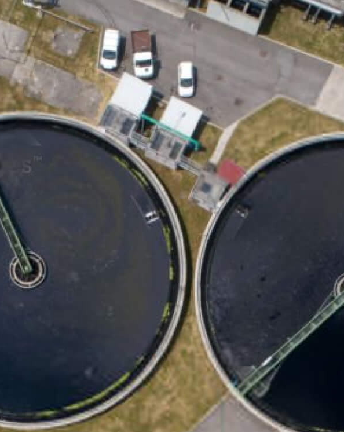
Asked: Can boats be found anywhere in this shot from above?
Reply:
No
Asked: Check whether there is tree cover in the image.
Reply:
No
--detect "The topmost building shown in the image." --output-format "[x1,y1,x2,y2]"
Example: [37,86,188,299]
[110,72,153,118]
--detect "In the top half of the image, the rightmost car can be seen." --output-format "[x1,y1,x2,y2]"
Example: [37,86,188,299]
[177,62,195,97]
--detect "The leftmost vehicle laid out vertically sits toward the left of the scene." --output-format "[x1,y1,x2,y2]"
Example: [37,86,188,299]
[100,31,119,71]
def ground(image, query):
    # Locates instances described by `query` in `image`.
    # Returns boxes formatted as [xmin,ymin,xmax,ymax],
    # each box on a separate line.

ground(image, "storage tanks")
[0,112,187,430]
[195,132,344,432]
